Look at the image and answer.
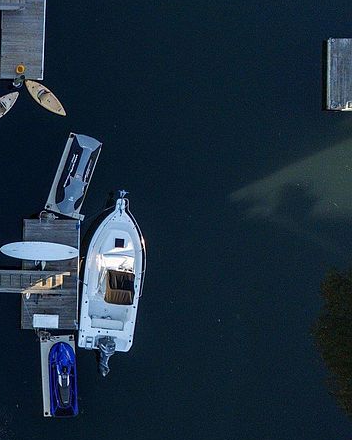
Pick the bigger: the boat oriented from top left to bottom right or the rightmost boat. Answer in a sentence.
Of the two, the rightmost boat is bigger, while the boat oriented from top left to bottom right is smaller.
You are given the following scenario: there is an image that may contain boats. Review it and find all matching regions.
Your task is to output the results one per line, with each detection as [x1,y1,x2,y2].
[49,340,78,417]
[24,80,67,115]
[78,190,150,379]
[0,93,20,117]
